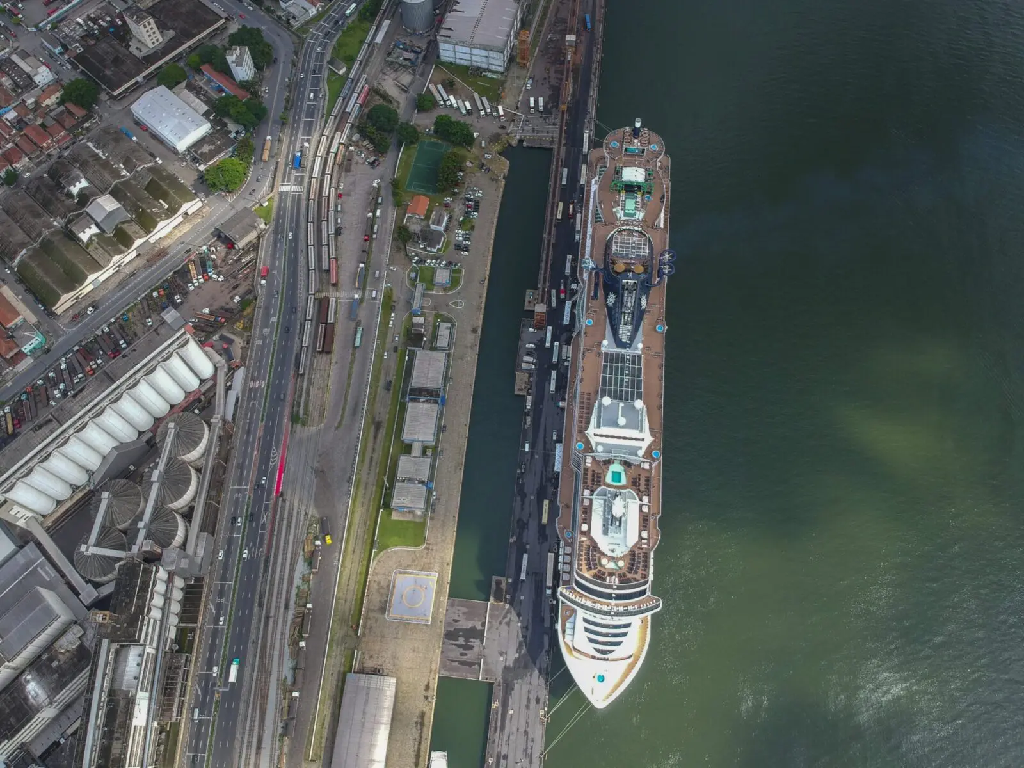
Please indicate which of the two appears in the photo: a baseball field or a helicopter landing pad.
helicopter landing pad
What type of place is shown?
port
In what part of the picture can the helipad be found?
bottom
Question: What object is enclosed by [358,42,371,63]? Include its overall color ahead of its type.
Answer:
gray rail car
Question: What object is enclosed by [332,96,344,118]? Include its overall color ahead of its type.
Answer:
gray rail car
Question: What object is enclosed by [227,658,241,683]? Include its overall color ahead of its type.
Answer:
white vehicle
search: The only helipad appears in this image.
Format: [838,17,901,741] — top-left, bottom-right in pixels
[386,569,438,624]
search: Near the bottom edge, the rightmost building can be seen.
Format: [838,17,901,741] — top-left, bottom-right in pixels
[332,673,399,768]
